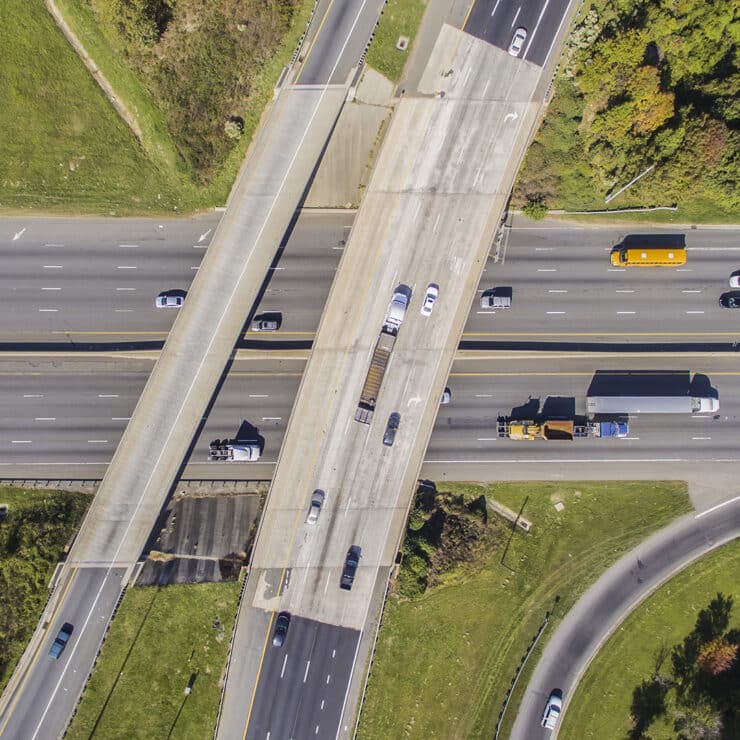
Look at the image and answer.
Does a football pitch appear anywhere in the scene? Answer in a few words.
No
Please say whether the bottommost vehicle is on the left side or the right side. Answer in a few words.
right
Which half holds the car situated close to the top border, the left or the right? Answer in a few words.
right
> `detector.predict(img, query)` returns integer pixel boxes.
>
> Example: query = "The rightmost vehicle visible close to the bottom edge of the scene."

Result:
[541,690,561,729]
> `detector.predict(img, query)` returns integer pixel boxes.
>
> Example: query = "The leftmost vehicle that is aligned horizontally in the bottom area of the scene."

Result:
[212,442,262,462]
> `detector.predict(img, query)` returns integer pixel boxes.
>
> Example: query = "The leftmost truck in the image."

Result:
[46,622,74,662]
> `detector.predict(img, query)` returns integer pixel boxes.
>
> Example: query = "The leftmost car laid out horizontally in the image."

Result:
[155,295,184,309]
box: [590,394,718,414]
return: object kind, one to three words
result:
vehicle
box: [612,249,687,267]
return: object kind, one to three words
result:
vehicle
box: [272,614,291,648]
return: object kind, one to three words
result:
car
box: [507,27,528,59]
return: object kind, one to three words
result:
car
